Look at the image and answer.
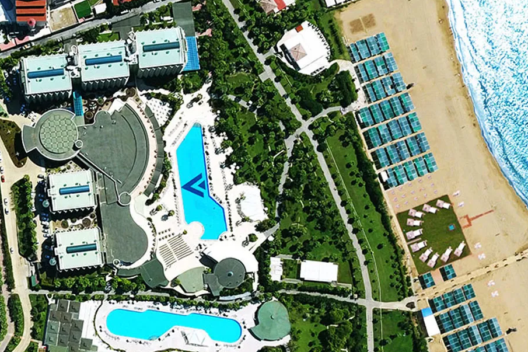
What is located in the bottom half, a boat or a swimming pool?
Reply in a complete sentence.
Visible in the bottom half is a swimming pool.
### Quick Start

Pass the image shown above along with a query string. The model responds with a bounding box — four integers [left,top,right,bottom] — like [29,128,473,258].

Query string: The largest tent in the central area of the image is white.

[238,183,265,221]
